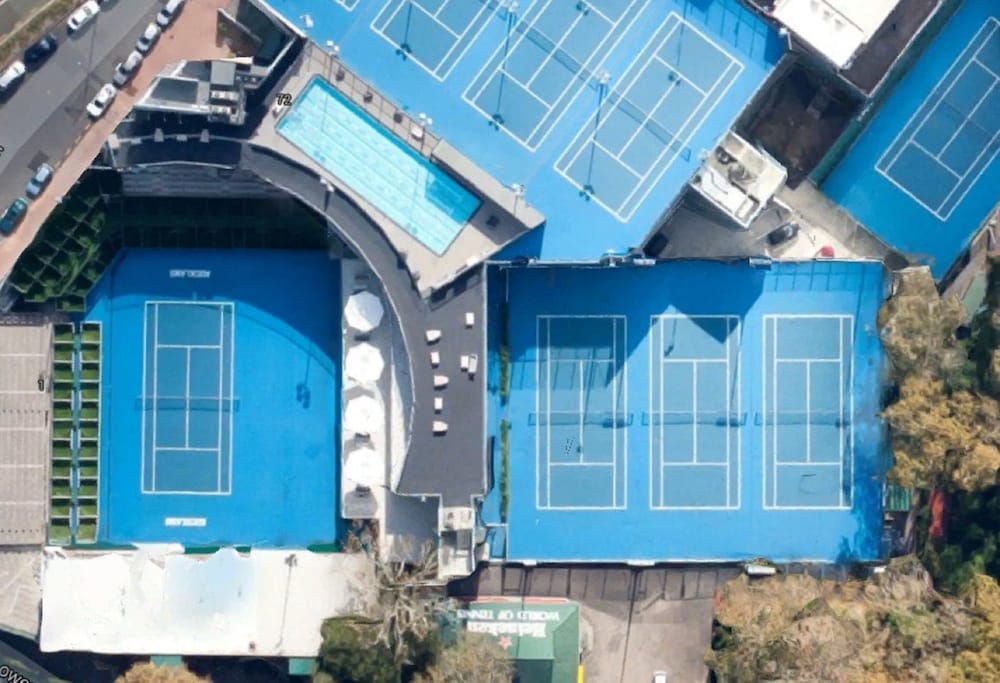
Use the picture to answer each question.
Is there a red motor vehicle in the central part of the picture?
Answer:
No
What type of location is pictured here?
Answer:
sports ground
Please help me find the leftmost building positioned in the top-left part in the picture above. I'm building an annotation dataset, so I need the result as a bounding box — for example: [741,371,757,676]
[134,57,266,124]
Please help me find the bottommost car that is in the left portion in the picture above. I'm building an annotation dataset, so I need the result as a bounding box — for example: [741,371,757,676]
[0,198,28,235]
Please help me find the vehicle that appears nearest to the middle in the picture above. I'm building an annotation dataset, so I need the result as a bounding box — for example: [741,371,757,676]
[642,227,669,260]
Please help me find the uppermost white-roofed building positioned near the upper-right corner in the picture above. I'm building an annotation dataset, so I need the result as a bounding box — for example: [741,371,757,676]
[768,0,898,72]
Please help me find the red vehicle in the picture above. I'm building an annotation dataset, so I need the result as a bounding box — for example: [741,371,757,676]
[928,492,945,535]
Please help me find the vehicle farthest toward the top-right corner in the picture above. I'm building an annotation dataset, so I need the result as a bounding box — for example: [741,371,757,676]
[764,220,802,246]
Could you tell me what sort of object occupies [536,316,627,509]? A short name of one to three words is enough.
tennis court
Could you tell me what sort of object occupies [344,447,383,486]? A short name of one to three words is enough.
umbrella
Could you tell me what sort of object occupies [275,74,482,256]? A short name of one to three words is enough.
swimming pool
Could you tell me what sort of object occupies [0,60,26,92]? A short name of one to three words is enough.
car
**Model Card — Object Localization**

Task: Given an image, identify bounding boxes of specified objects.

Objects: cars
[764,220,802,246]
[85,83,118,117]
[23,32,59,64]
[156,0,188,24]
[113,51,143,85]
[25,163,55,197]
[66,0,102,32]
[0,60,26,92]
[928,492,945,535]
[135,21,163,55]
[0,198,28,235]
[642,227,669,260]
